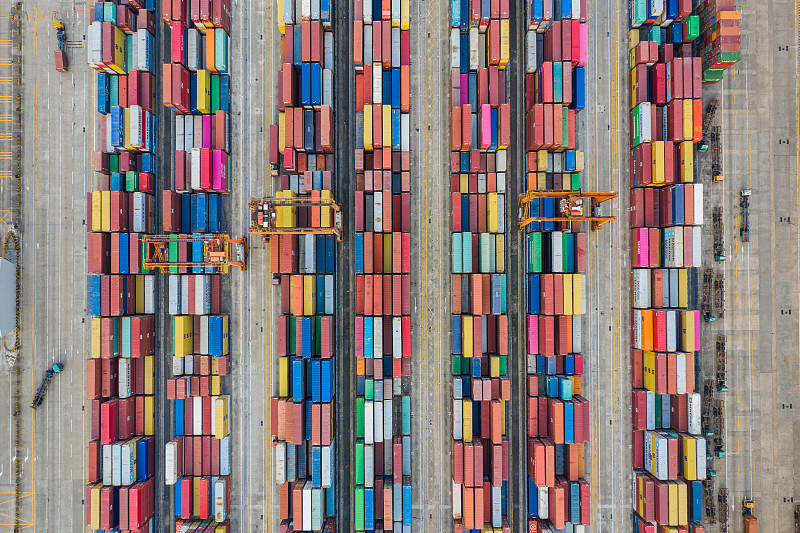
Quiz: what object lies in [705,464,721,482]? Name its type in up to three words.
work vehicle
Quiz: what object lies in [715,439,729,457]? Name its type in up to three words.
work vehicle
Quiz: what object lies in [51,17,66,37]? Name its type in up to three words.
vehicle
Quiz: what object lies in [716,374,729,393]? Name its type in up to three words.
vehicle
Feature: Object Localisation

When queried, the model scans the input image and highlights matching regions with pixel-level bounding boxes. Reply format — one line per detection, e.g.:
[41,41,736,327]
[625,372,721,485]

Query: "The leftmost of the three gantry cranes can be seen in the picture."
[141,231,249,274]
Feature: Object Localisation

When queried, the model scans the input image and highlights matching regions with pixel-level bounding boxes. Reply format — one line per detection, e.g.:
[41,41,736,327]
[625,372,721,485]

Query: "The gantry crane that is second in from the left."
[247,197,344,244]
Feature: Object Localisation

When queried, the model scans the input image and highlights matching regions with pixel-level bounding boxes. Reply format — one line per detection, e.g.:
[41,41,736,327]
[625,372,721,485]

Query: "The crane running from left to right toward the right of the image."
[516,185,621,233]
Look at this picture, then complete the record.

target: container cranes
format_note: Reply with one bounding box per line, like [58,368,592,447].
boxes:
[141,231,249,274]
[516,185,621,233]
[247,197,344,244]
